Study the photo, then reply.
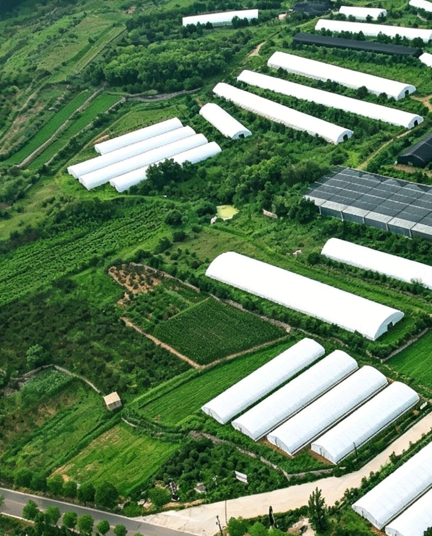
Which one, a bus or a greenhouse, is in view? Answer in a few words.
greenhouse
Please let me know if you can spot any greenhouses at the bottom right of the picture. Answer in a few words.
Yes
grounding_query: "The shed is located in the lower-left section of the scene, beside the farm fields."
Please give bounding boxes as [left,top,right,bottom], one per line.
[100,387,121,411]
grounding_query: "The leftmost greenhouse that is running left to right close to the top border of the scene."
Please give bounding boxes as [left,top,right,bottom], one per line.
[180,9,258,27]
